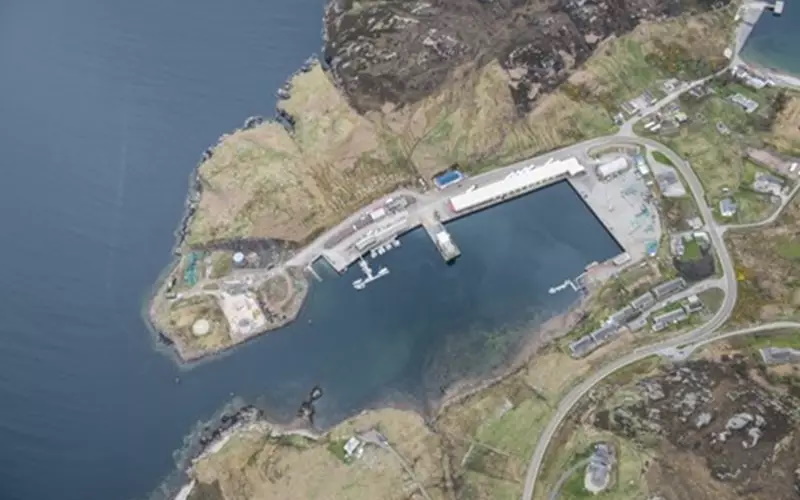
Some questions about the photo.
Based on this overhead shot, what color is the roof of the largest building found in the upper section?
white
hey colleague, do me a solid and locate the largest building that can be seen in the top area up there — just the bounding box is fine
[449,162,566,216]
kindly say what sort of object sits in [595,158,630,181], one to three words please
shed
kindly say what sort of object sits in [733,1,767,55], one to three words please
pier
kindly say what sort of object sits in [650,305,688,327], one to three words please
house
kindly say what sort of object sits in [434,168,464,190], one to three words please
building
